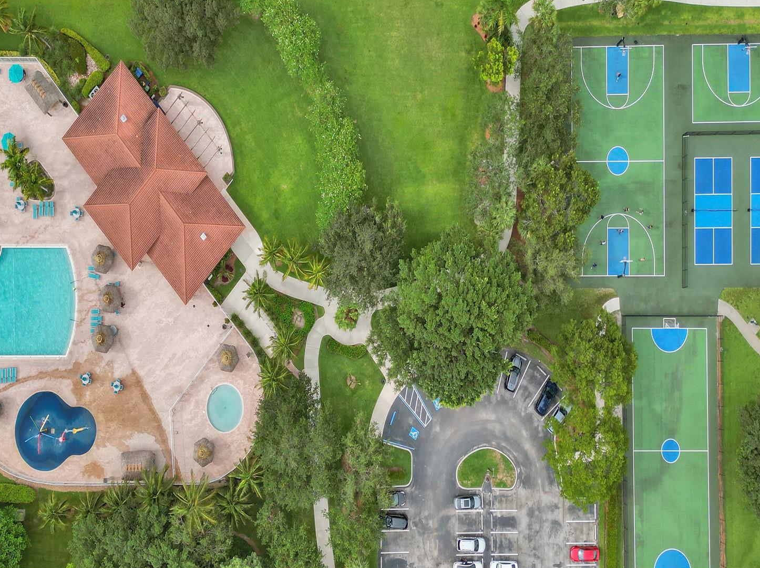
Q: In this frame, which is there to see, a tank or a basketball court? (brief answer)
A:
basketball court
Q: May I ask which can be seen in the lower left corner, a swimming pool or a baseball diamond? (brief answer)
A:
swimming pool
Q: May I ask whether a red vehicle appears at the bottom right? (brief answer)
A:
Yes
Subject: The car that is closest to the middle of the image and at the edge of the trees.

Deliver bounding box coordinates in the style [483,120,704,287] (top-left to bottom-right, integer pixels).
[504,354,521,395]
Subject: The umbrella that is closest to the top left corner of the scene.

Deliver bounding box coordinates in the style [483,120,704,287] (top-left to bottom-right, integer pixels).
[9,64,24,85]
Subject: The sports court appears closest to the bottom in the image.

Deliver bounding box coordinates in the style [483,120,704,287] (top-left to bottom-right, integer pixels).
[632,318,711,568]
